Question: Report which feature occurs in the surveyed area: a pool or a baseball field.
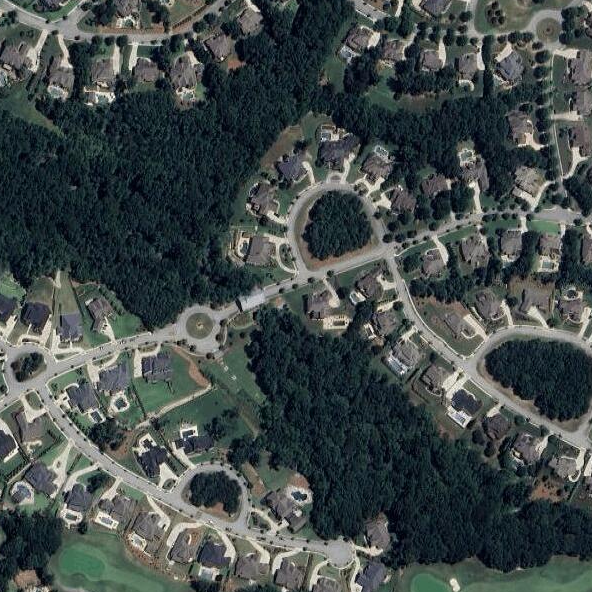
pool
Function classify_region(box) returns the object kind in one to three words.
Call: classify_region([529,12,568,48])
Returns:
roundabout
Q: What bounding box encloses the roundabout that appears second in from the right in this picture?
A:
[180,305,223,348]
